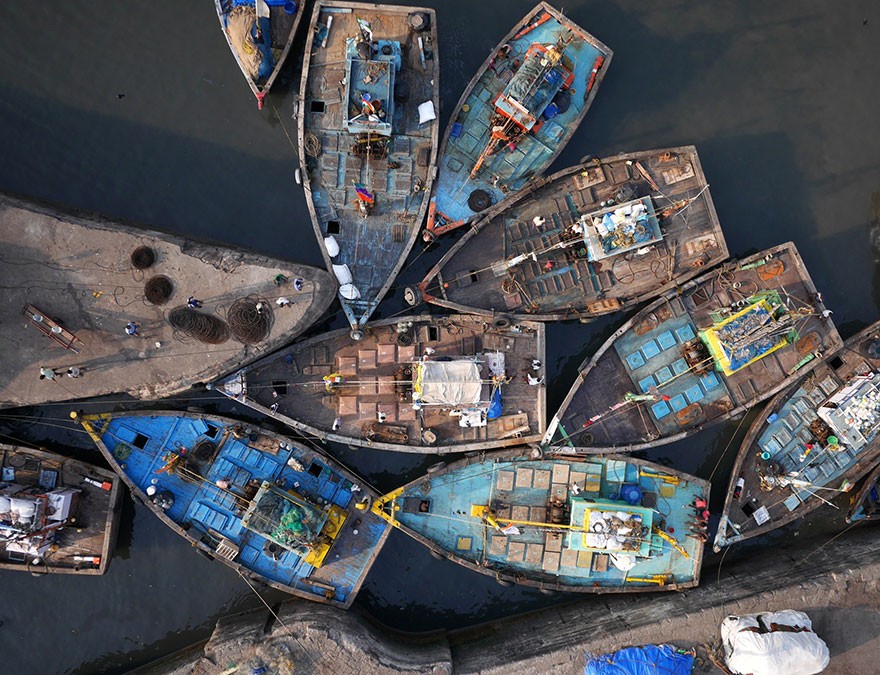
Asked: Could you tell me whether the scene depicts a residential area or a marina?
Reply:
marina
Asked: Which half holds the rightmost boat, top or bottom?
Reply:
bottom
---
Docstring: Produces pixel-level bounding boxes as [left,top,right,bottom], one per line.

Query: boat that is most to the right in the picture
[840,461,880,522]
